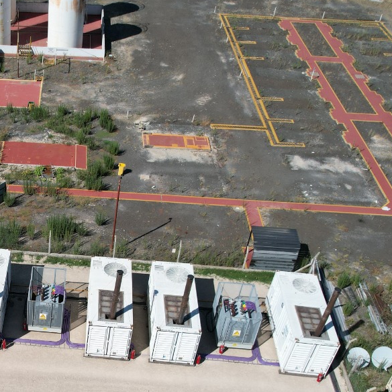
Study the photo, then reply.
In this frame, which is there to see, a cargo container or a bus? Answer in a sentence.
The one in the frame is a cargo container.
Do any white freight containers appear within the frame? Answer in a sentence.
Yes, the image includes a white freight container.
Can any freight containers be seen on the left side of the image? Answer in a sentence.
Yes, there is a freight container on the left side of the image.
